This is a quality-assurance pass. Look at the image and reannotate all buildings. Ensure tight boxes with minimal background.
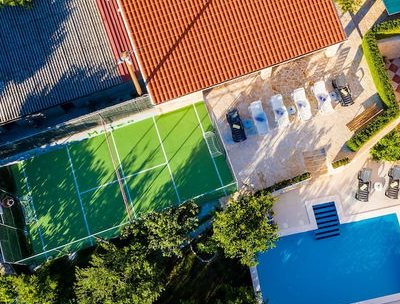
[0,0,129,140]
[116,0,349,113]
